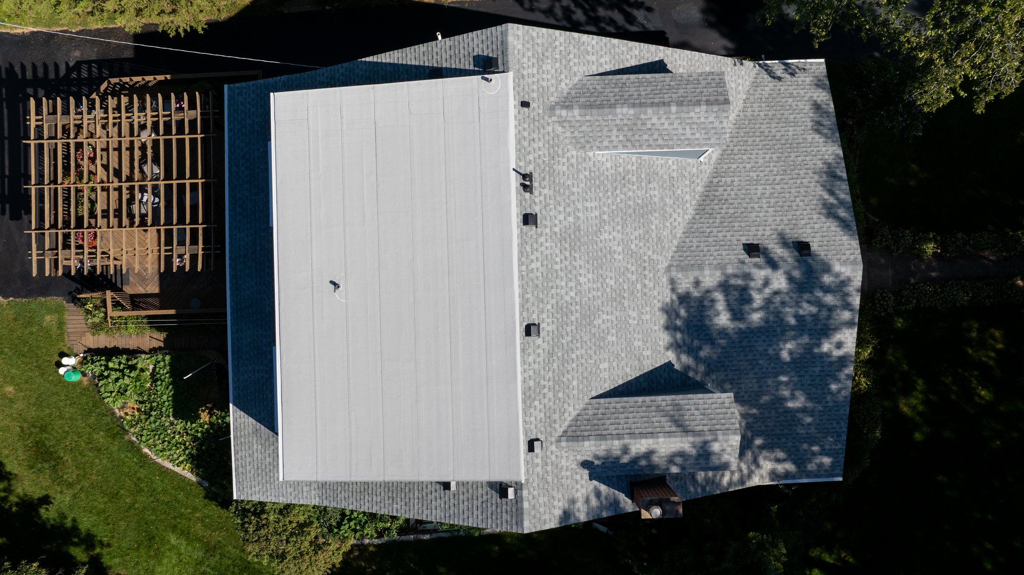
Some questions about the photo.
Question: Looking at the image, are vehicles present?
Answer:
No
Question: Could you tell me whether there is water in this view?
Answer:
No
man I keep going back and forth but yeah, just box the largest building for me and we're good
[221,23,861,533]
